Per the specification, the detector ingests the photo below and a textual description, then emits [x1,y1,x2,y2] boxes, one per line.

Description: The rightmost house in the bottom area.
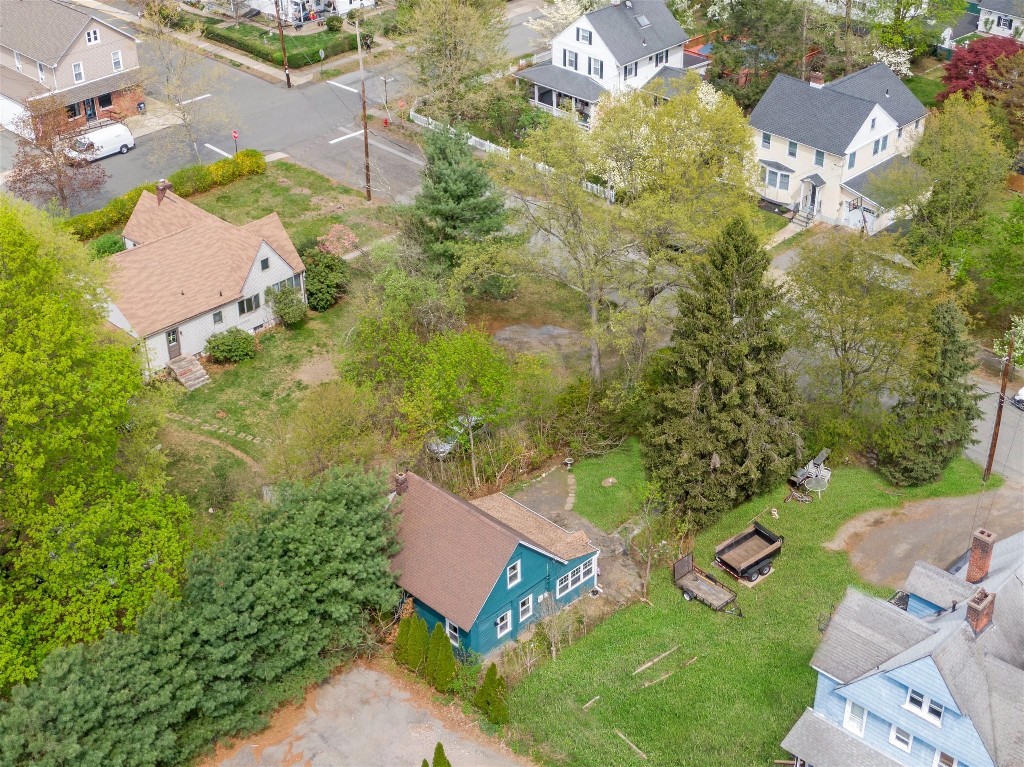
[746,508,1024,767]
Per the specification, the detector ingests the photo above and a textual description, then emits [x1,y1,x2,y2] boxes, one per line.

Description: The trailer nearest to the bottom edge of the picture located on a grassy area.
[673,553,749,618]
